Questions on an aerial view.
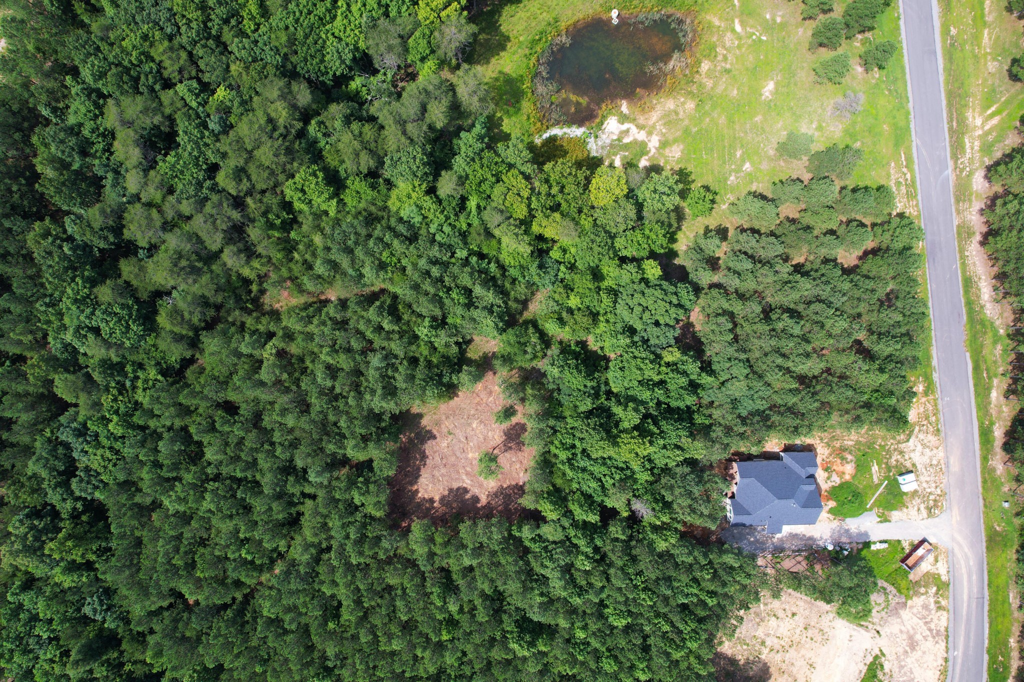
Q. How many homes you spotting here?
1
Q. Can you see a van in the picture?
No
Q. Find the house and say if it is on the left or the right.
right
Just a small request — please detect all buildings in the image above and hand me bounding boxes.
[723,451,823,534]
